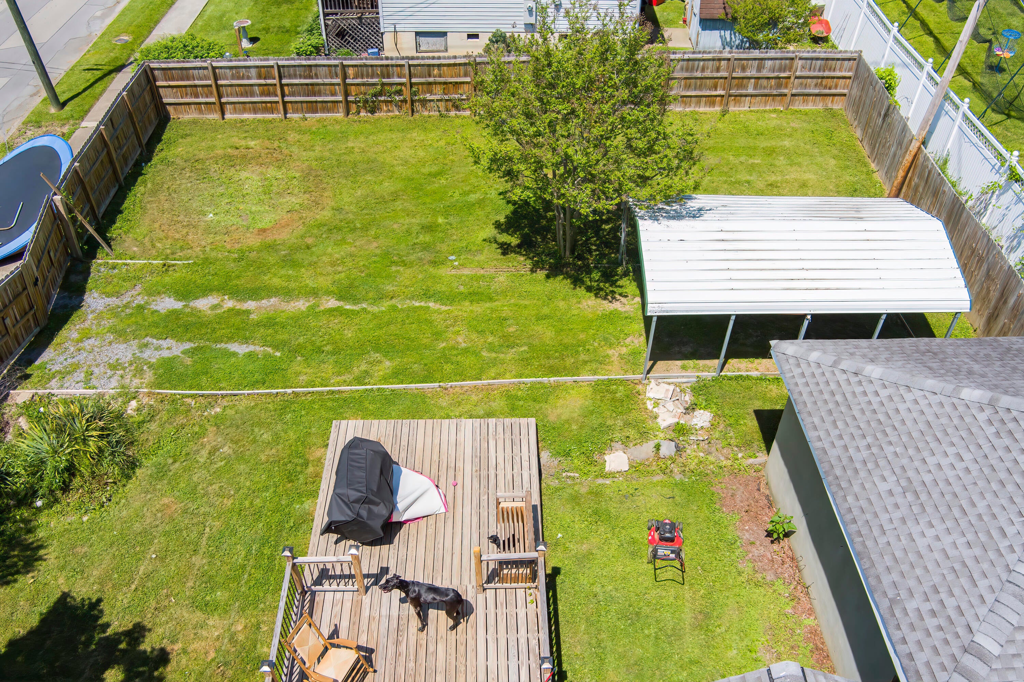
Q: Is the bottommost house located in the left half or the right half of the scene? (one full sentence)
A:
The bottommost house sits on the right side.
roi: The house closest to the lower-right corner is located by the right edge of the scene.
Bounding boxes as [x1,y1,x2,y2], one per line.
[768,336,1024,682]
